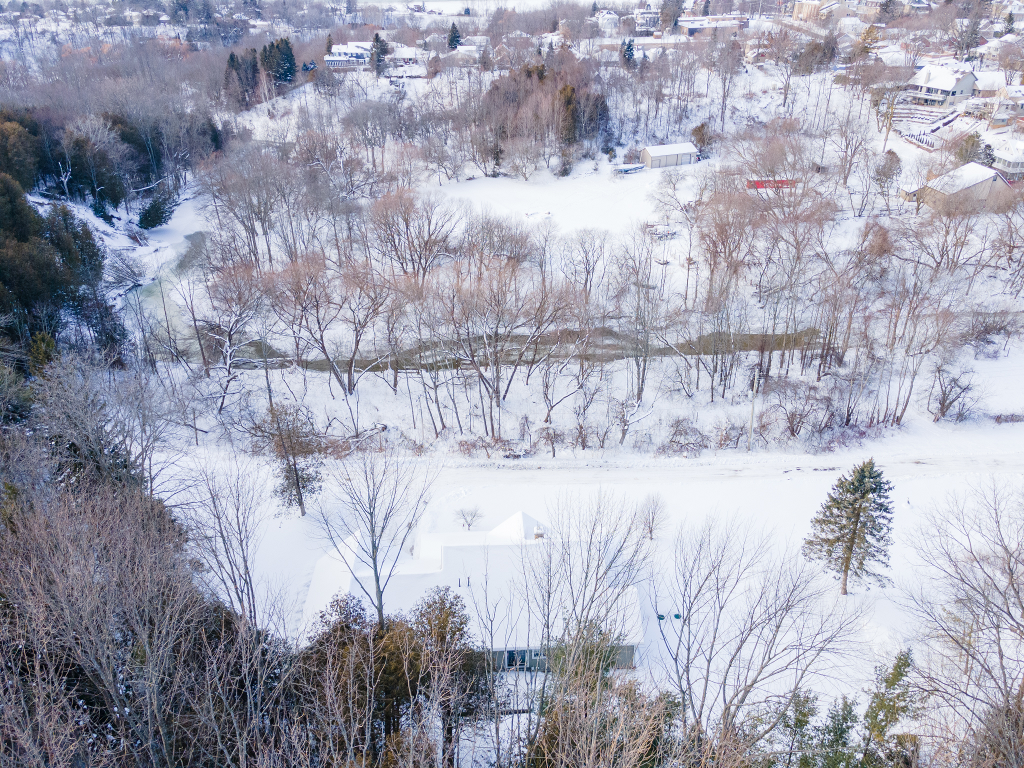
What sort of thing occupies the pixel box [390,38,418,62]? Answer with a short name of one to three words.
house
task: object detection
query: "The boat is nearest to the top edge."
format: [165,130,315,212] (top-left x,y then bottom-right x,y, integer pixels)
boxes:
[614,160,648,173]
